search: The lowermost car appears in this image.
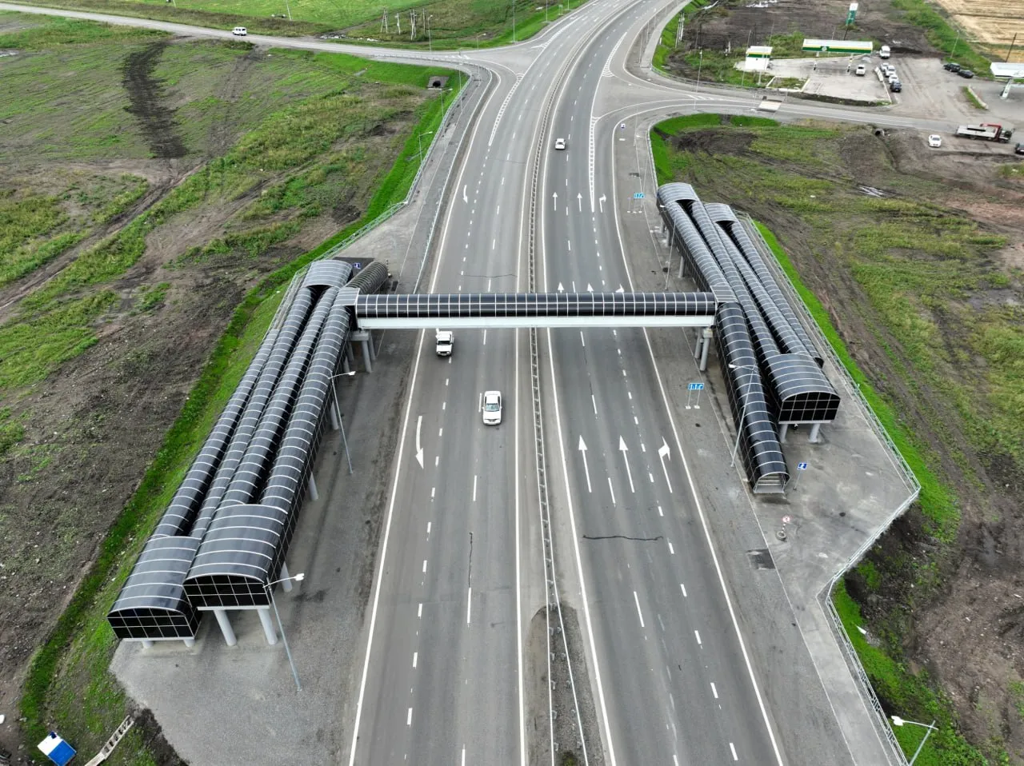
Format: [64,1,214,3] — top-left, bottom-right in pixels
[481,390,503,424]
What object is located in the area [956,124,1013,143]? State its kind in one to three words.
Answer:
vehicle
